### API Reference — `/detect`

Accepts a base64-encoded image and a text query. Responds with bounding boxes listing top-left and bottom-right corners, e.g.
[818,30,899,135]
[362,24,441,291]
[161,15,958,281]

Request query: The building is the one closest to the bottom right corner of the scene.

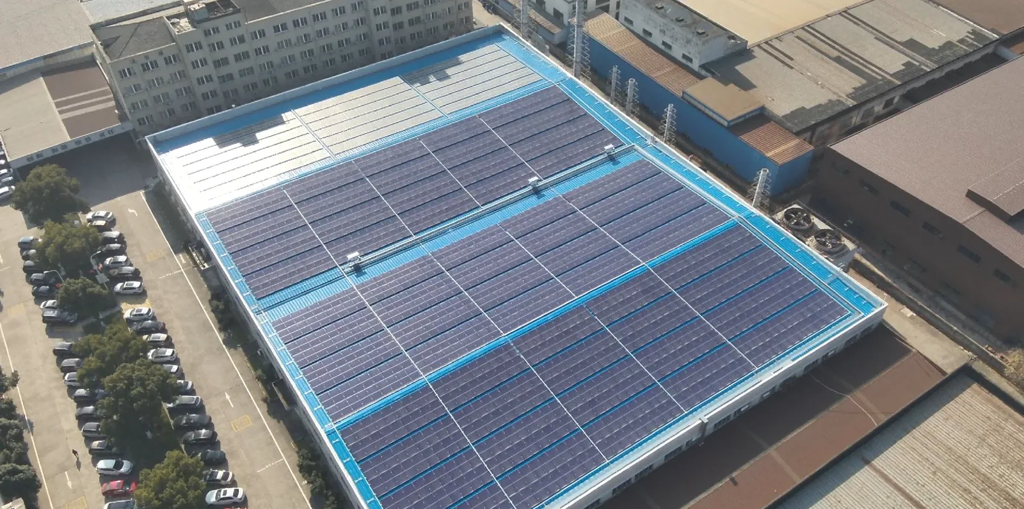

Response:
[789,377,1024,509]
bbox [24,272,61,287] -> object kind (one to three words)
car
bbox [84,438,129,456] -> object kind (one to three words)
car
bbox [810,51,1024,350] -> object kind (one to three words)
building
